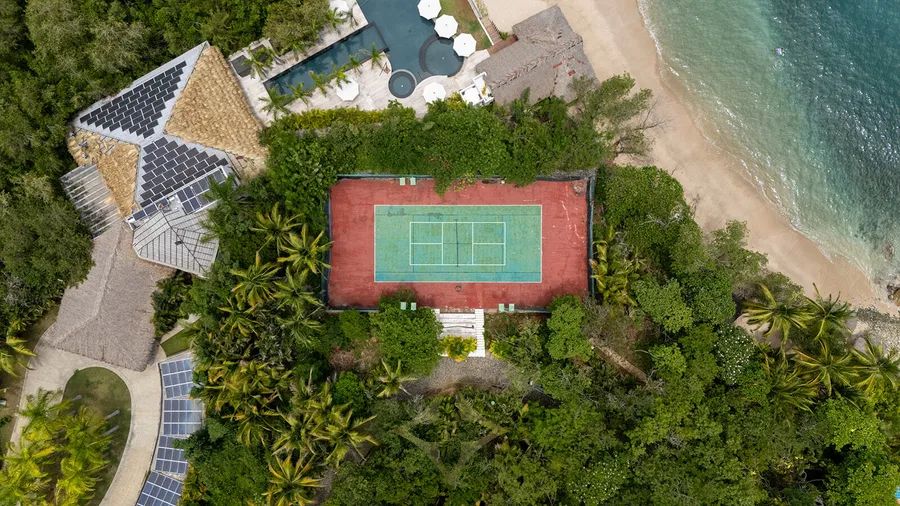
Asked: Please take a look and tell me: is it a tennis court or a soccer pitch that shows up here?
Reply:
tennis court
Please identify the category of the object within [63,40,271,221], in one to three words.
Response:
house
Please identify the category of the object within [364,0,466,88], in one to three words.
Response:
swimming pool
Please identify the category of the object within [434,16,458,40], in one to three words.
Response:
umbrella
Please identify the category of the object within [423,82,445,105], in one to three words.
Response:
umbrella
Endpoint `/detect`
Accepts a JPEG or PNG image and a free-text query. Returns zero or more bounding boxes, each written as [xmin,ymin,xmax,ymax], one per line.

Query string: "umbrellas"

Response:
[337,80,359,103]
[453,34,476,58]
[330,0,351,16]
[423,82,445,105]
[417,0,440,19]
[434,16,458,40]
